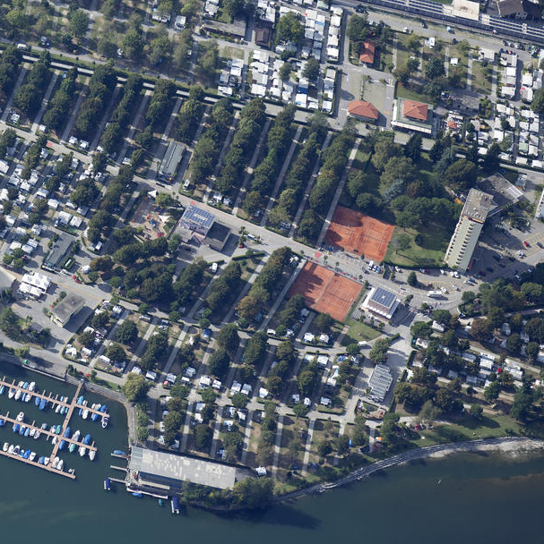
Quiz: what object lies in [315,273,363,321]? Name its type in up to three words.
tennis court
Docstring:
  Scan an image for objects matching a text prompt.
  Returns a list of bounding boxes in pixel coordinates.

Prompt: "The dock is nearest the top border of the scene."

[0,377,110,421]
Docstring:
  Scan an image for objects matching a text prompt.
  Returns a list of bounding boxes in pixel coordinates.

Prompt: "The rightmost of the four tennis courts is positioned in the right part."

[354,215,395,261]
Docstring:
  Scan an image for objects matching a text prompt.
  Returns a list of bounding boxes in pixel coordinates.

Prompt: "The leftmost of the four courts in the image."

[295,262,336,310]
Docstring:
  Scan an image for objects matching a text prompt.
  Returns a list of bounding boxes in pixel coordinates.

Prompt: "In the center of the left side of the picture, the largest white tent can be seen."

[25,273,51,294]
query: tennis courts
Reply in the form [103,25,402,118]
[295,262,336,310]
[315,273,363,321]
[354,215,395,261]
[327,206,366,252]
